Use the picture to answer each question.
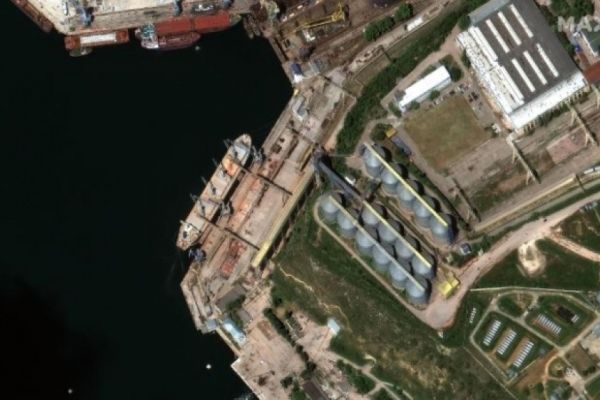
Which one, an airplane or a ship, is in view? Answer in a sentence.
Looking from above, you can make out a ship.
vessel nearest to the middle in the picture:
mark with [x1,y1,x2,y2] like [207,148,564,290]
[178,131,254,251]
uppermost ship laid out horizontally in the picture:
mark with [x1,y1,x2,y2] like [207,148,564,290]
[141,11,241,37]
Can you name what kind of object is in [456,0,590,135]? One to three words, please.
building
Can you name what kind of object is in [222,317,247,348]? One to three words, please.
building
